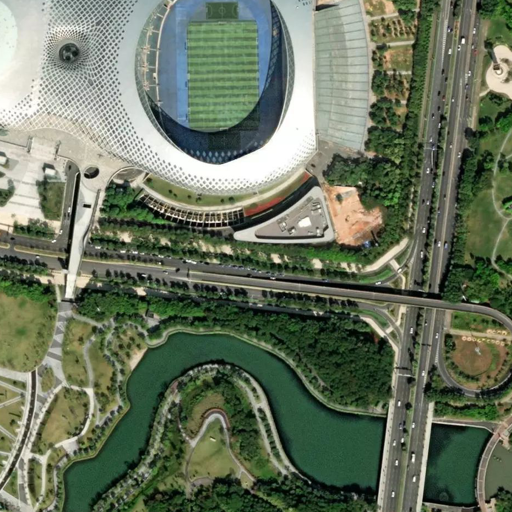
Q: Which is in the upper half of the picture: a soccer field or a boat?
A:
soccer field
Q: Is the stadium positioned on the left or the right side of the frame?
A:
left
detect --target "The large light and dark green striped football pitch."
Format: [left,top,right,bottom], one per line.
[188,21,258,131]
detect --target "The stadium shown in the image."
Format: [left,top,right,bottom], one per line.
[0,0,316,192]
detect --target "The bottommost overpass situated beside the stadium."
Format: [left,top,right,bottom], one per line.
[175,269,512,394]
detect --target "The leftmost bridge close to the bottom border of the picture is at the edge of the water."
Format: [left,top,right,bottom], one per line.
[378,402,434,512]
